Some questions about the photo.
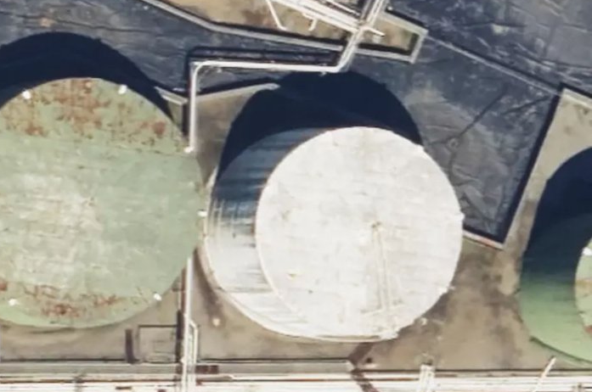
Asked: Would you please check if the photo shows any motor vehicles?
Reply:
No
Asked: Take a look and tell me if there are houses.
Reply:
No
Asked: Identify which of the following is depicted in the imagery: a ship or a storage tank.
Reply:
storage tank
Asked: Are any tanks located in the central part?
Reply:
Yes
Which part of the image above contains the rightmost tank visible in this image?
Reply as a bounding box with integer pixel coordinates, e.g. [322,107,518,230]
[515,203,592,368]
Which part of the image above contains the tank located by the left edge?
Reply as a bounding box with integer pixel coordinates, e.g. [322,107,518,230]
[0,78,207,328]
